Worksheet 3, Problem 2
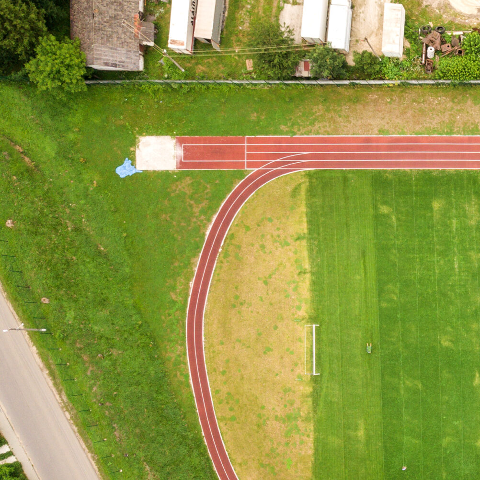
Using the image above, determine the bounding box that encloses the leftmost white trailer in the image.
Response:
[169,0,196,53]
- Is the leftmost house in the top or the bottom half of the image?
top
